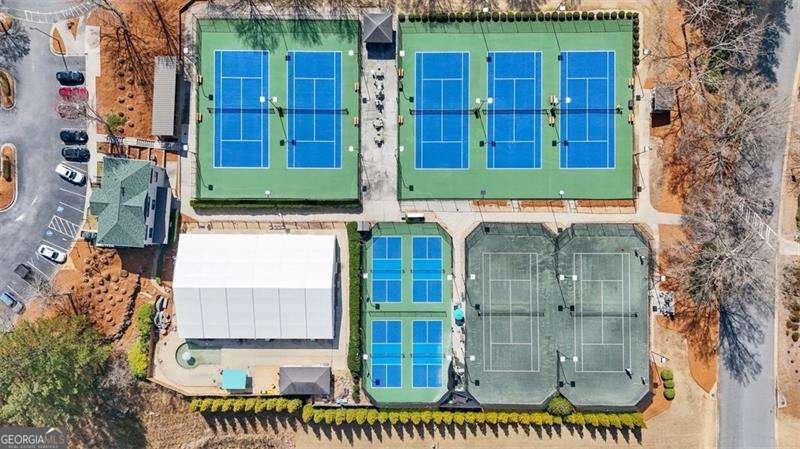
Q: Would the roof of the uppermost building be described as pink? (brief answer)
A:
No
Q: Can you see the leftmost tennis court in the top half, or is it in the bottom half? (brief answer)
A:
top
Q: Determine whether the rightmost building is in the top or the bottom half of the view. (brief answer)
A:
top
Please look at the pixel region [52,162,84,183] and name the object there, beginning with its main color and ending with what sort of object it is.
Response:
white truck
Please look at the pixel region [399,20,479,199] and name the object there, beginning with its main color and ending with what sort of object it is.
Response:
green tennis court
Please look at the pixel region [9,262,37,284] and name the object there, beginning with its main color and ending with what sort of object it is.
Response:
gray truck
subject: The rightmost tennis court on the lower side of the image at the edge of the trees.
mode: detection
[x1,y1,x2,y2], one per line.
[556,224,651,404]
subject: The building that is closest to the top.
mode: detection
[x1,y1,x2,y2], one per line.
[363,12,392,45]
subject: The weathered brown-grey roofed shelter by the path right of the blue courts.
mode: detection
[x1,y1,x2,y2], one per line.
[646,88,673,112]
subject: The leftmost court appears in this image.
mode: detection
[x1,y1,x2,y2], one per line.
[197,20,278,199]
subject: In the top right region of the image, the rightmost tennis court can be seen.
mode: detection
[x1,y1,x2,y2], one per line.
[552,20,634,199]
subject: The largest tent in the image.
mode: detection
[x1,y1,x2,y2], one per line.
[172,233,338,340]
